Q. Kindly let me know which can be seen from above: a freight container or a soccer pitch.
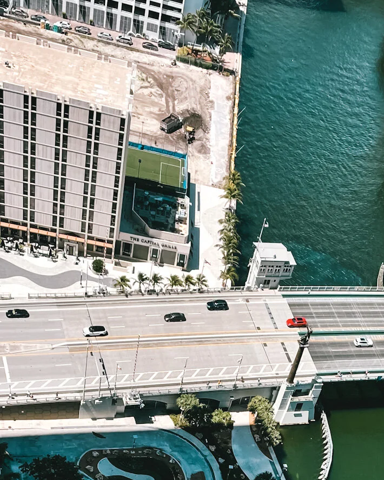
soccer pitch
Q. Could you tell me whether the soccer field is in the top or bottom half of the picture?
top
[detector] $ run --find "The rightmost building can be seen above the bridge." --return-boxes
[248,210,296,290]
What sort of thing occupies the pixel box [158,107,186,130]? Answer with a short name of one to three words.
truck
